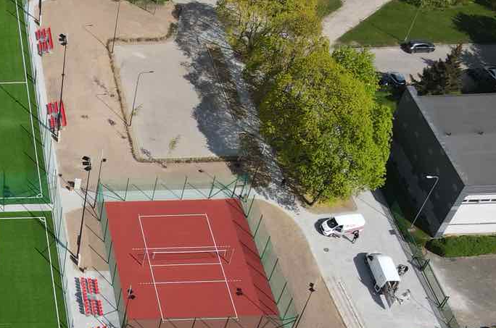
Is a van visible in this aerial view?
Yes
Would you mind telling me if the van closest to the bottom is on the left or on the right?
right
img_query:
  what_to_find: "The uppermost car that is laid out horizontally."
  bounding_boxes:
[403,42,435,55]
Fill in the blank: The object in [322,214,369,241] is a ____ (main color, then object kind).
white vehicle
